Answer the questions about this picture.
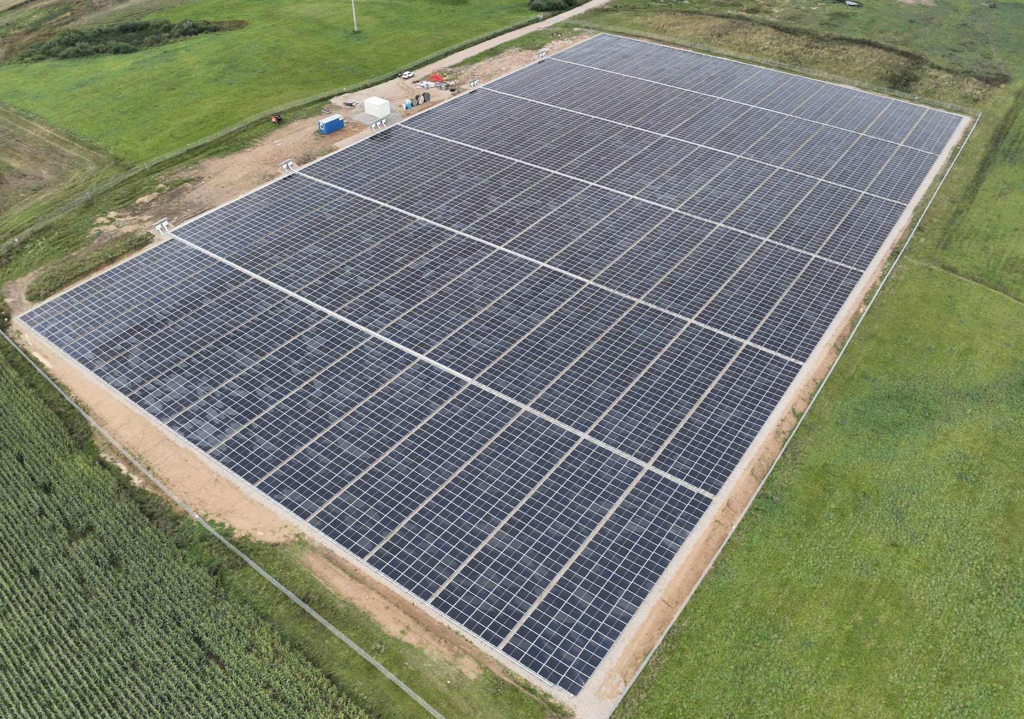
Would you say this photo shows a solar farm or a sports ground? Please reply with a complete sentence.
The area seen from above is a solar farm.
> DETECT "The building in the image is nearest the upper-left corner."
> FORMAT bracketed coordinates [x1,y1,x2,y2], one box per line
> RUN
[363,97,390,118]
